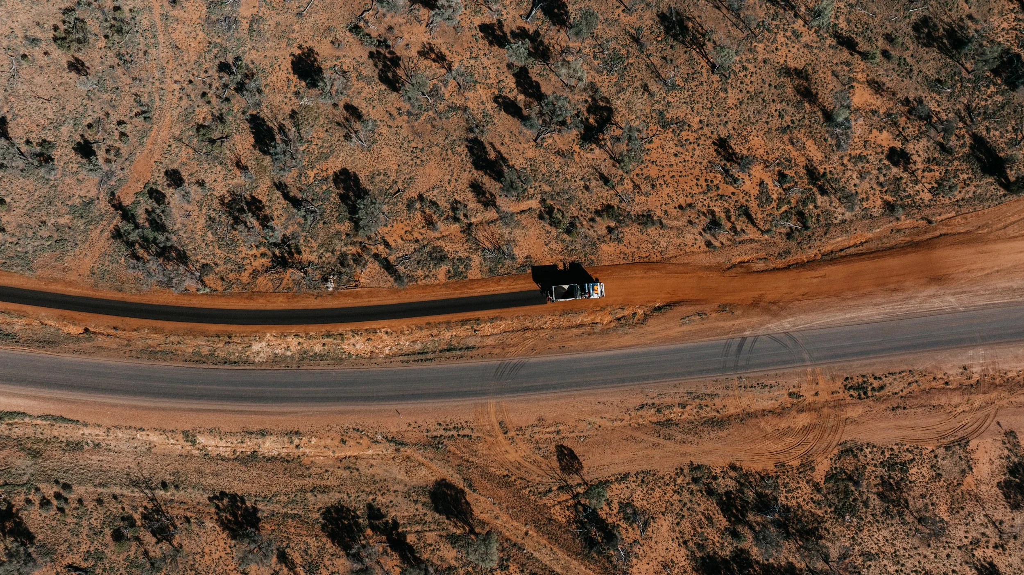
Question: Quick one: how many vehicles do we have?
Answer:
1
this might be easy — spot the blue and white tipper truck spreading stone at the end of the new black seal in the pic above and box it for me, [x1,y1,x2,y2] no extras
[544,282,606,302]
